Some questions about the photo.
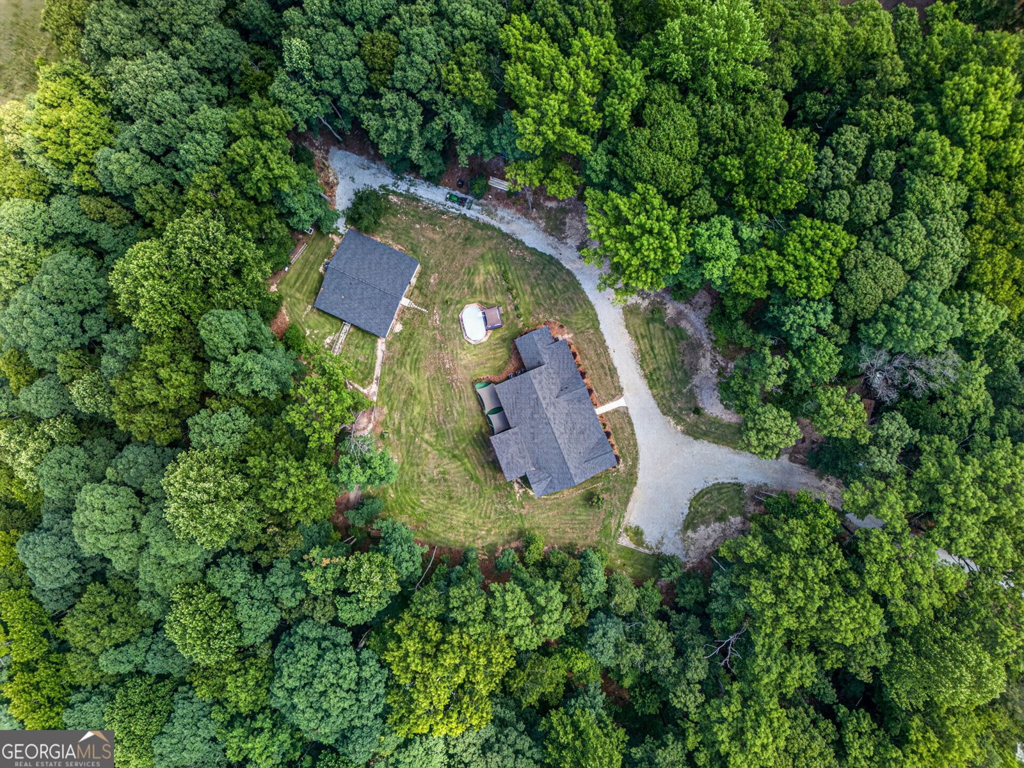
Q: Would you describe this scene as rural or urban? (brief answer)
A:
rural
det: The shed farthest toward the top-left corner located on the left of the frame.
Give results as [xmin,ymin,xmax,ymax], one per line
[313,229,419,338]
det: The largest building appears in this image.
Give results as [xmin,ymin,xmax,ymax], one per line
[489,325,619,499]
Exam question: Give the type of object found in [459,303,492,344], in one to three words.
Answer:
swimming pool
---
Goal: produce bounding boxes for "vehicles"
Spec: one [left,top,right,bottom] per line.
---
[449,190,474,209]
